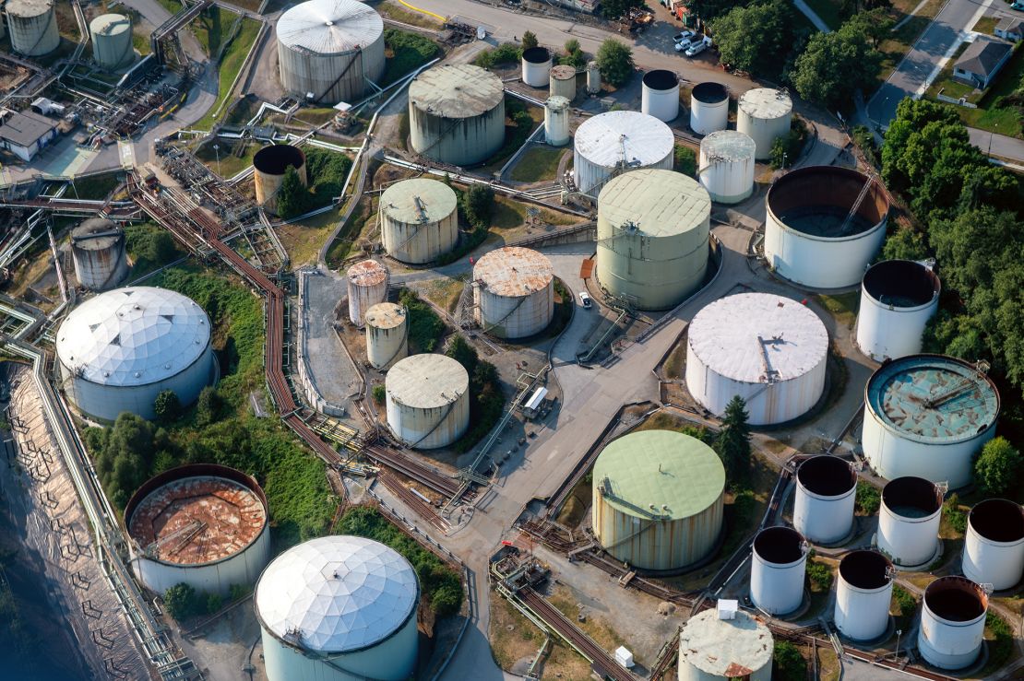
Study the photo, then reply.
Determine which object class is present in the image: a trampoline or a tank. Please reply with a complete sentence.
It is a tank that can be seen here.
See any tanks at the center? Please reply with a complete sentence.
Yes, a tank is visible at the center.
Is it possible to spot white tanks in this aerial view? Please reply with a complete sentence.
Yes, there is a white tank in the image.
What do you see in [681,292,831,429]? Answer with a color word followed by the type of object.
white storage tank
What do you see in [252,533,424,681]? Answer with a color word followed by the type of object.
white storage tank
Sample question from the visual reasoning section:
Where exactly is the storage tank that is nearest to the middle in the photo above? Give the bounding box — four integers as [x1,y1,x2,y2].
[468,246,554,338]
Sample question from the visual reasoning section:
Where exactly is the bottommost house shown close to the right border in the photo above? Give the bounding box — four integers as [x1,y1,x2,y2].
[951,34,1018,88]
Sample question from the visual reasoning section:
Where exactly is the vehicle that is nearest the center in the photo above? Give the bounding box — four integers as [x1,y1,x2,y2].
[576,288,594,308]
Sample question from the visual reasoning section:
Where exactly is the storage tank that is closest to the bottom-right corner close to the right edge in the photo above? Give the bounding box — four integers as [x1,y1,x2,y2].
[913,575,996,674]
